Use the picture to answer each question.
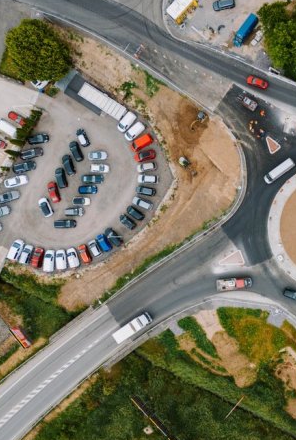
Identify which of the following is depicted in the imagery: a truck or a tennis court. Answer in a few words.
truck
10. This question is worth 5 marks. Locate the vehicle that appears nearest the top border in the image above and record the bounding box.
[213,0,236,12]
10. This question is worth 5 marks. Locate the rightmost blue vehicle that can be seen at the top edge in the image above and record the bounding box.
[232,11,260,51]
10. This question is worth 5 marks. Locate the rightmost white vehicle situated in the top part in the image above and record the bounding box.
[264,157,296,184]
